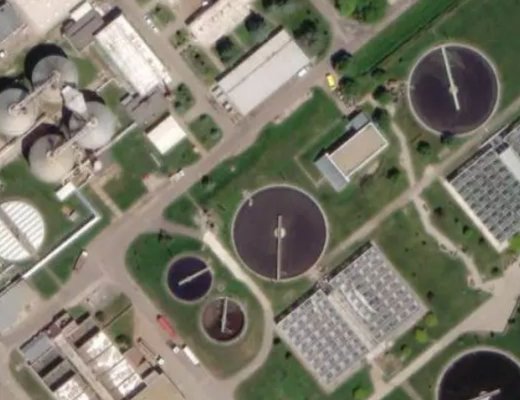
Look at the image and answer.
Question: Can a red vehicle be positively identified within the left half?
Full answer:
Yes, a red vehicle appears within the left half.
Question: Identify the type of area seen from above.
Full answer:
The picture captures an industrial area.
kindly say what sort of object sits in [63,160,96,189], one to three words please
building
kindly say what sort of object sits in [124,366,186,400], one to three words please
building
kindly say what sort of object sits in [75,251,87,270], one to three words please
vehicle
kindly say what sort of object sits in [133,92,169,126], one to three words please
shed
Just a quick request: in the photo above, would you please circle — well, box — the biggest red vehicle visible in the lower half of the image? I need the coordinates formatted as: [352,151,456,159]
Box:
[155,314,177,339]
